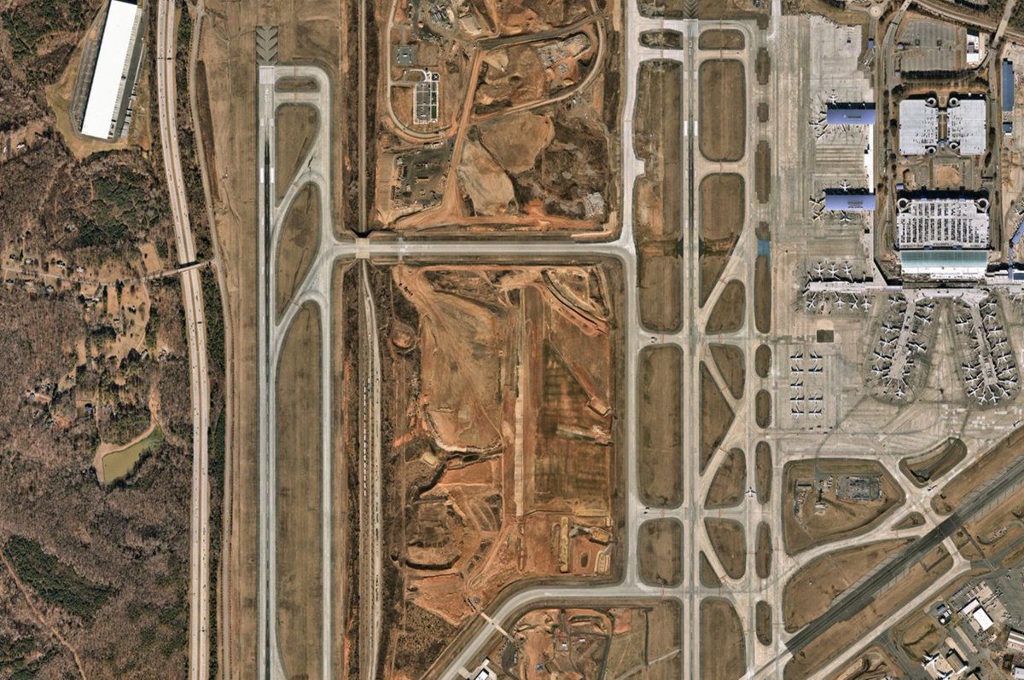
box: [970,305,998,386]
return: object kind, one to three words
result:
building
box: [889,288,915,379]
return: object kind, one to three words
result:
building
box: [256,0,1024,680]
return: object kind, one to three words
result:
airport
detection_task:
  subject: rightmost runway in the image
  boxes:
[785,454,1024,654]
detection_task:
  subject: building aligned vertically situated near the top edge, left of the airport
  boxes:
[81,0,137,138]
